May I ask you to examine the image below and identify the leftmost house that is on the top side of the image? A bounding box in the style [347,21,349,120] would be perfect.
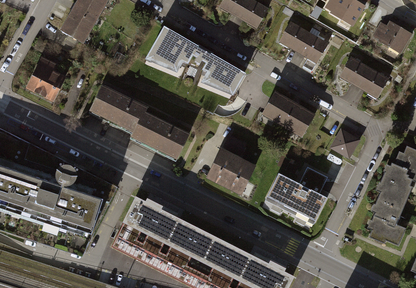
[26,56,69,104]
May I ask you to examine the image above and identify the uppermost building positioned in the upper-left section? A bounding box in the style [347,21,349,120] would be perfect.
[62,0,108,44]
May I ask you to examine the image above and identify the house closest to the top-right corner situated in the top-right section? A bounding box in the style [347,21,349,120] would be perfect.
[374,20,414,57]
